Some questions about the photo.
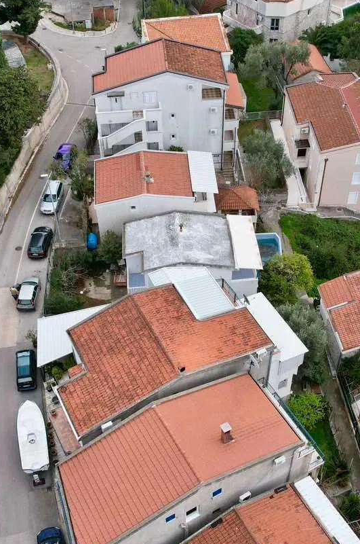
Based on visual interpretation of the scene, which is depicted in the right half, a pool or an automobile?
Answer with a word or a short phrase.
pool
